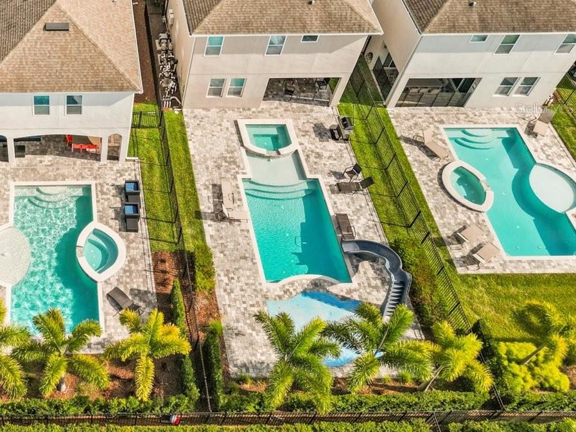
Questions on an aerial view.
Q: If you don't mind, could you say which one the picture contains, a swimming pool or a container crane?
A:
swimming pool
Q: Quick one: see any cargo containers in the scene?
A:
No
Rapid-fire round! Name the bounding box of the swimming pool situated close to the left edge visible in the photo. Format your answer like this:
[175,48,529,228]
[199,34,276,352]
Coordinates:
[0,180,125,341]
